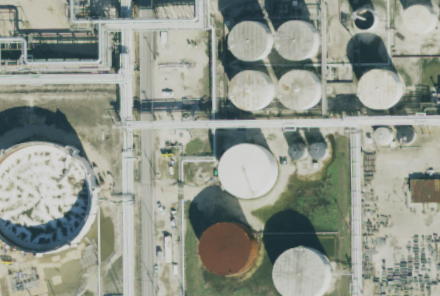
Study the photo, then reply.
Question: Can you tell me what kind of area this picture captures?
industrial area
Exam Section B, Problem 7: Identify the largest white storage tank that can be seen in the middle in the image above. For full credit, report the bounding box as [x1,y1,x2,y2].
[216,144,277,200]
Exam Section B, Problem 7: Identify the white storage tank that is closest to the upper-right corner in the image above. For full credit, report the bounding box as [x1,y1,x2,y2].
[402,2,438,38]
